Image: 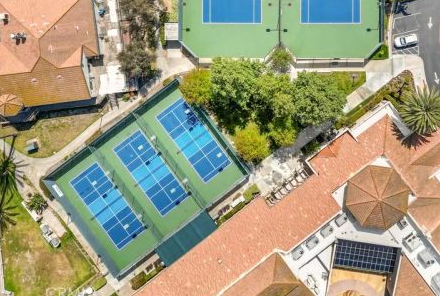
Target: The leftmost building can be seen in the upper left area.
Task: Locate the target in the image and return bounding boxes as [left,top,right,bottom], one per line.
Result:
[0,0,103,114]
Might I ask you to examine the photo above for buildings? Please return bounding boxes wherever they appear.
[165,22,182,41]
[0,0,103,114]
[129,101,440,296]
